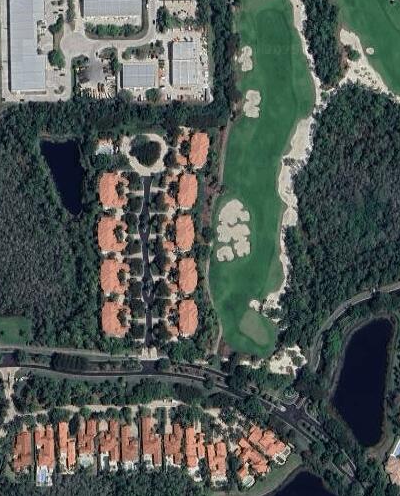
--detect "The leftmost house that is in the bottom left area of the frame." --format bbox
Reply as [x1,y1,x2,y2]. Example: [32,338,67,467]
[15,432,35,471]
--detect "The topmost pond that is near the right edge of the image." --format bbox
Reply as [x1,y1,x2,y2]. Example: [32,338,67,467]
[333,315,395,445]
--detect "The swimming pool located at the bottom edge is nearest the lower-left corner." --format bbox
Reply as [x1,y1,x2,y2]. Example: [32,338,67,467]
[36,465,53,486]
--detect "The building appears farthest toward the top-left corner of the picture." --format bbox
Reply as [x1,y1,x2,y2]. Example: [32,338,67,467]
[9,0,46,92]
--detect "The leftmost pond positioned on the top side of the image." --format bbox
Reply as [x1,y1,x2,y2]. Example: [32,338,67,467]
[42,139,84,214]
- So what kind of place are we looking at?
residential area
